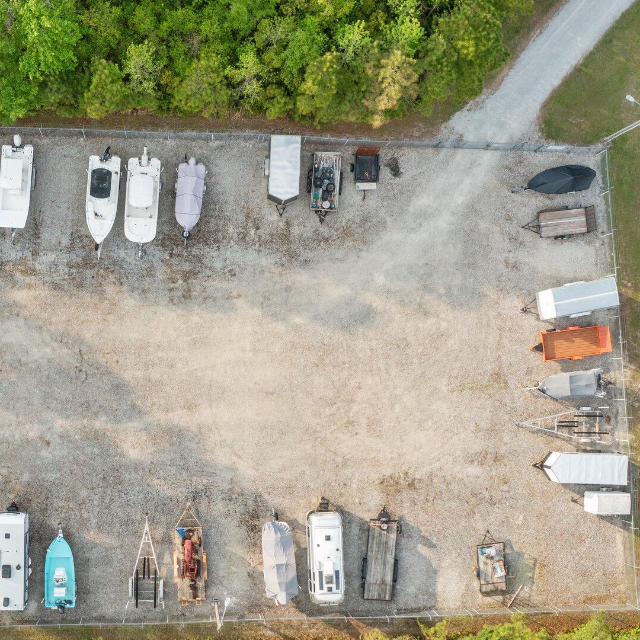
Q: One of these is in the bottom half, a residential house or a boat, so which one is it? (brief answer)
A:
boat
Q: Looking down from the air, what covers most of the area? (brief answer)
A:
paved ground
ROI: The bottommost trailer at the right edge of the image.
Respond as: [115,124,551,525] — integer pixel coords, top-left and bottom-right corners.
[571,486,631,516]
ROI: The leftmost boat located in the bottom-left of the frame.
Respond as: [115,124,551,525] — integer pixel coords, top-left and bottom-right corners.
[45,537,76,619]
